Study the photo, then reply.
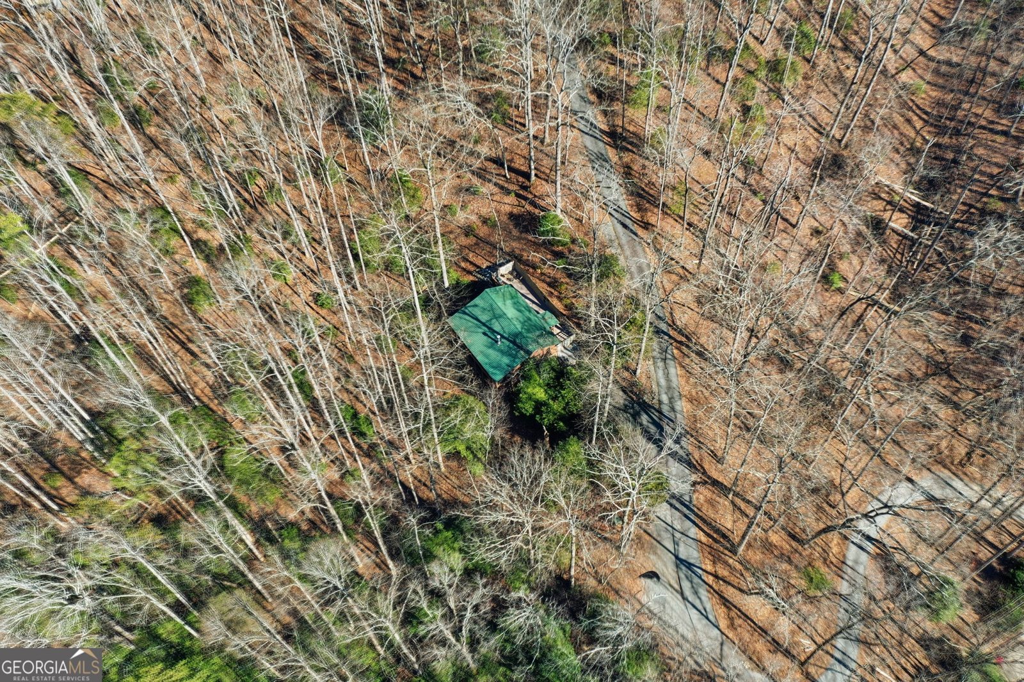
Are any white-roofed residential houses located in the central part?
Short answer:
No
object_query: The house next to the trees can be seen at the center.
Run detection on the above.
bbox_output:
[448,267,577,389]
